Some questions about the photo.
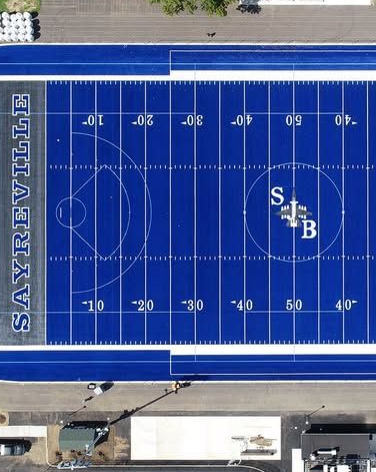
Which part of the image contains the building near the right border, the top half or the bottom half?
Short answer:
bottom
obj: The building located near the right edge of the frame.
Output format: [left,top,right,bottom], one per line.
[303,430,369,472]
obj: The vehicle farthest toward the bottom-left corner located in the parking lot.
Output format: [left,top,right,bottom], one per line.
[0,441,31,457]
